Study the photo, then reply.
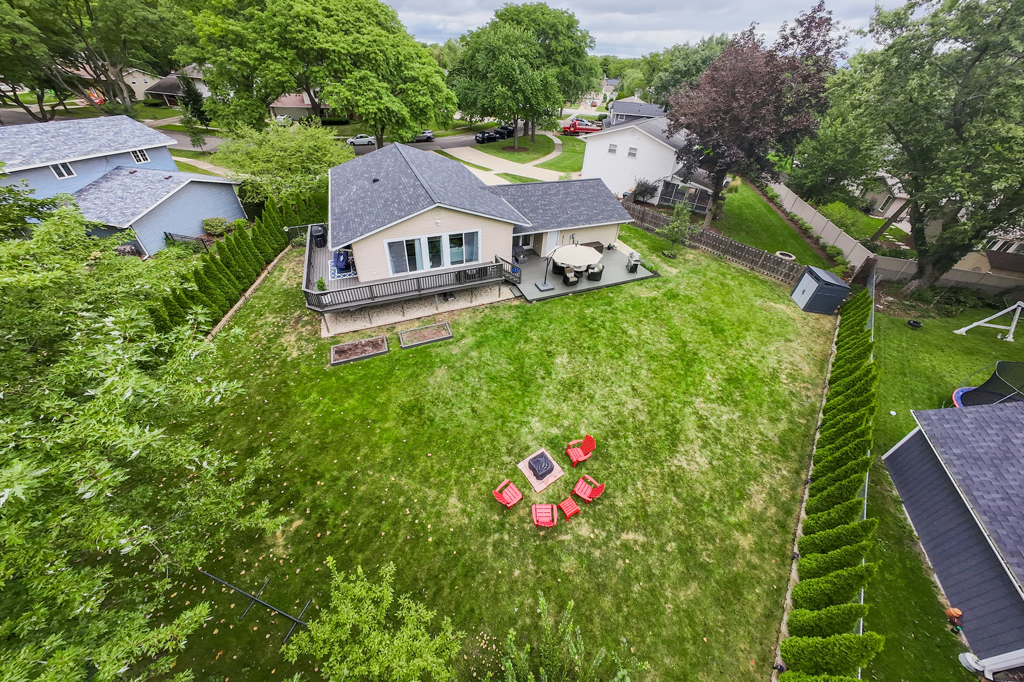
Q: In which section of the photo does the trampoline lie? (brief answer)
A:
right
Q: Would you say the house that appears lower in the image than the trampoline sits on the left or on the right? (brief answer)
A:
right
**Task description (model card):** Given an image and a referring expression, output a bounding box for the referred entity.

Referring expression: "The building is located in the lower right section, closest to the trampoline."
[880,403,1024,682]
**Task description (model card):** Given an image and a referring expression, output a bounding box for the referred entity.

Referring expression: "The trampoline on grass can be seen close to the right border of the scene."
[945,360,1024,406]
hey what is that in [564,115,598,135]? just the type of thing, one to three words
vehicle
